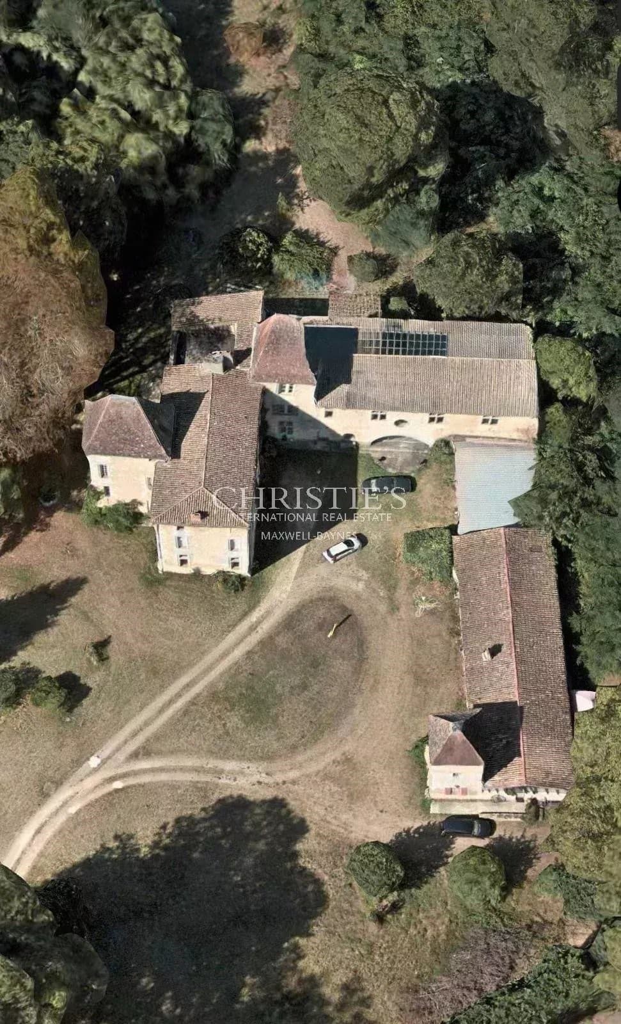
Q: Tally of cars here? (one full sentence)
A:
There are 3 cars in the image.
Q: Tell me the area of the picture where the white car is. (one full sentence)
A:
Look in the center portion of the view to spot the white car.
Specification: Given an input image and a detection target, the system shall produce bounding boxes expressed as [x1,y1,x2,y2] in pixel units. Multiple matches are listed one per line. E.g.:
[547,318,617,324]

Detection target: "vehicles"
[439,813,496,842]
[361,472,412,497]
[319,533,366,567]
